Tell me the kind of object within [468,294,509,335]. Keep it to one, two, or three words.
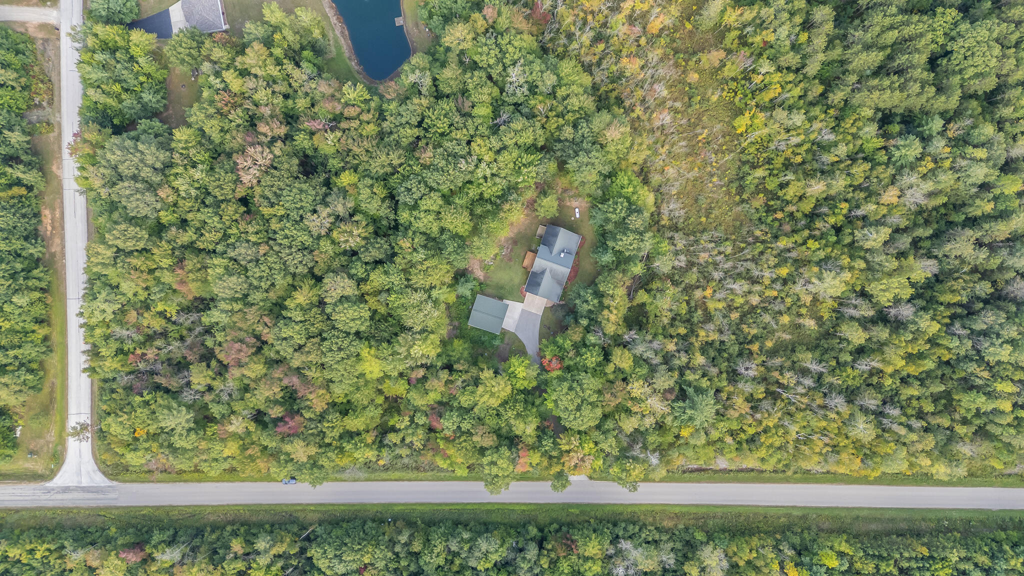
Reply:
building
